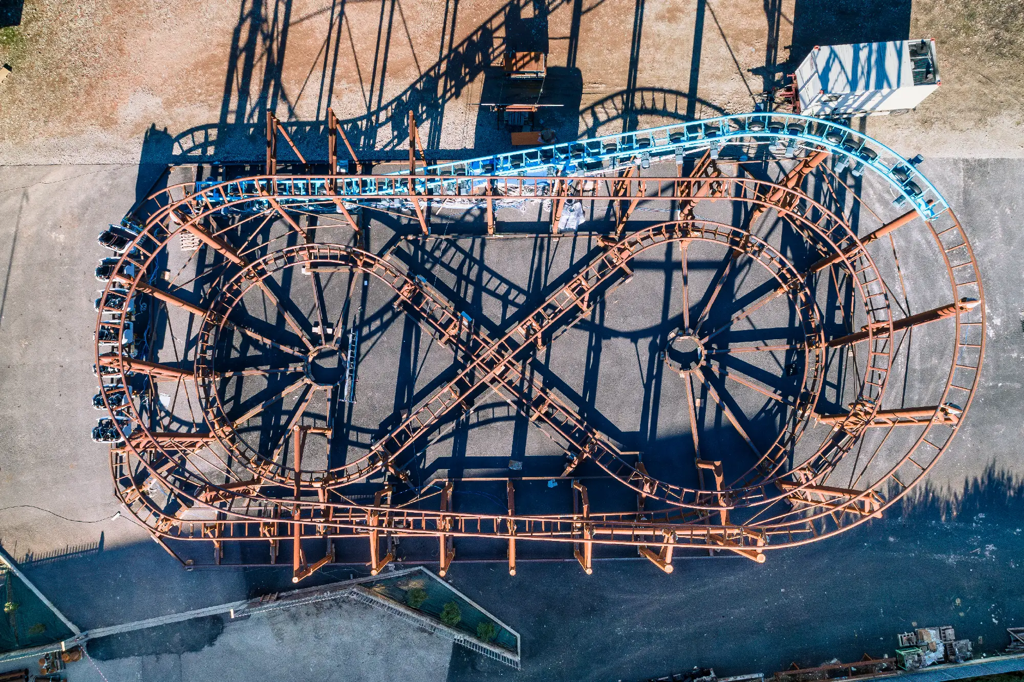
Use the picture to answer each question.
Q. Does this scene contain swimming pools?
No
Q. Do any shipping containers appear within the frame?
Yes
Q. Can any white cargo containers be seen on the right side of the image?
Yes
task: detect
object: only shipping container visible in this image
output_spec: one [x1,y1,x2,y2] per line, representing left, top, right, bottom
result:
[798,39,940,114]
